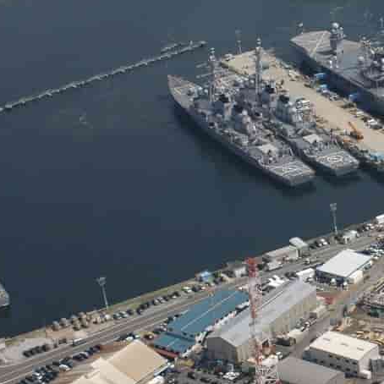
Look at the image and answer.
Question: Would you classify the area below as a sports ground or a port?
port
